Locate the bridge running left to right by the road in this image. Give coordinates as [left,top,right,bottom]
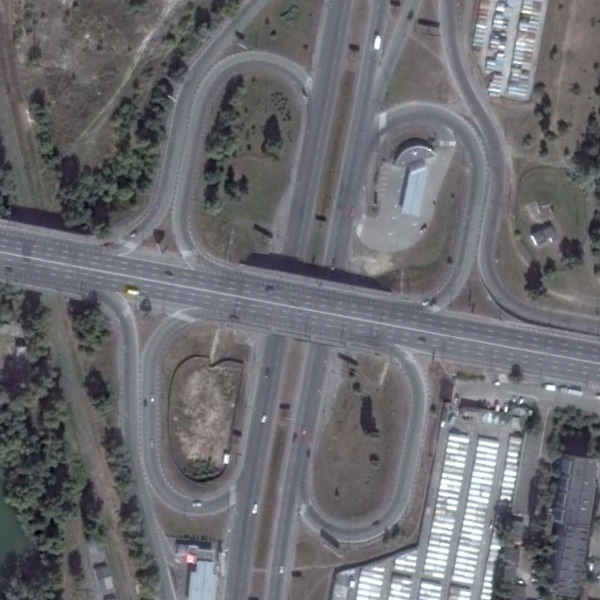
[0,219,600,385]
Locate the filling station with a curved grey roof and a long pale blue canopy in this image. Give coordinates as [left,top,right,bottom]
[396,146,436,217]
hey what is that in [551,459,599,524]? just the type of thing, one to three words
building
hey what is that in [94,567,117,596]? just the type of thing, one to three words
shed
